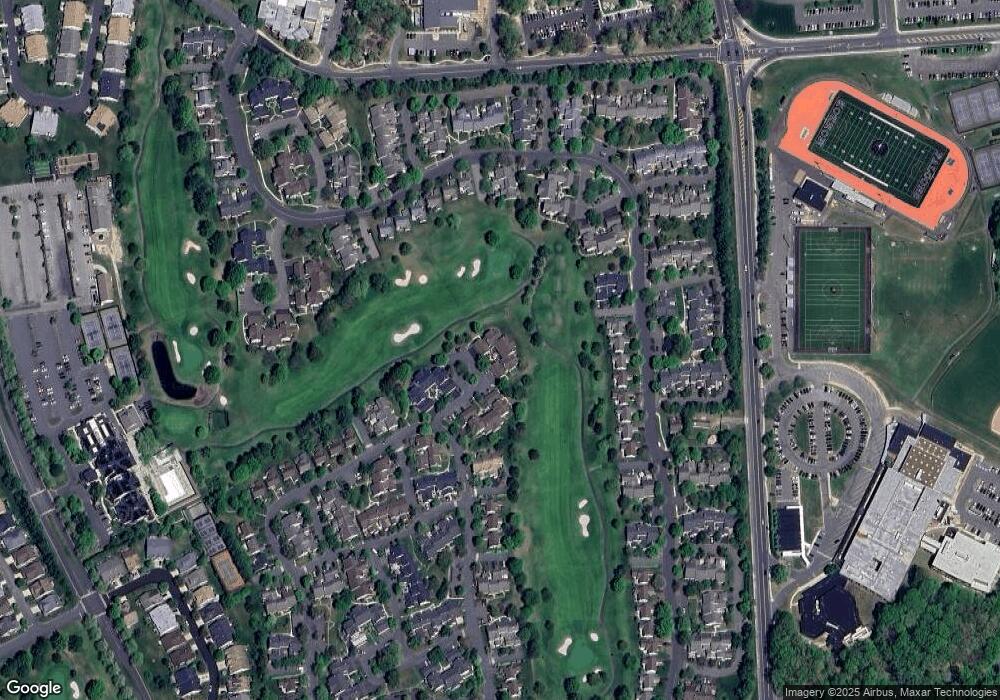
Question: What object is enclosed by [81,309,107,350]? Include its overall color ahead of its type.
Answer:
gray tennis court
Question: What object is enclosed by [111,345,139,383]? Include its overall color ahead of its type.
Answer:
gray tennis court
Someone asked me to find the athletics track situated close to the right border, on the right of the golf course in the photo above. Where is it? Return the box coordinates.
[778,80,968,228]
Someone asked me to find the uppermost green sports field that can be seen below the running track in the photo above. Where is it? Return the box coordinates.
[794,226,871,353]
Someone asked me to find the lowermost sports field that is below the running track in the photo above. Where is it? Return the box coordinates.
[932,318,1000,440]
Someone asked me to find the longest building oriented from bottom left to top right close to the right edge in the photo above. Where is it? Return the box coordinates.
[801,422,973,650]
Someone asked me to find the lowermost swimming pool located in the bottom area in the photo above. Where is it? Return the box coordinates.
[159,469,186,503]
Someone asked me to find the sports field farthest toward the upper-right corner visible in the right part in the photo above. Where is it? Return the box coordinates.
[809,91,949,207]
